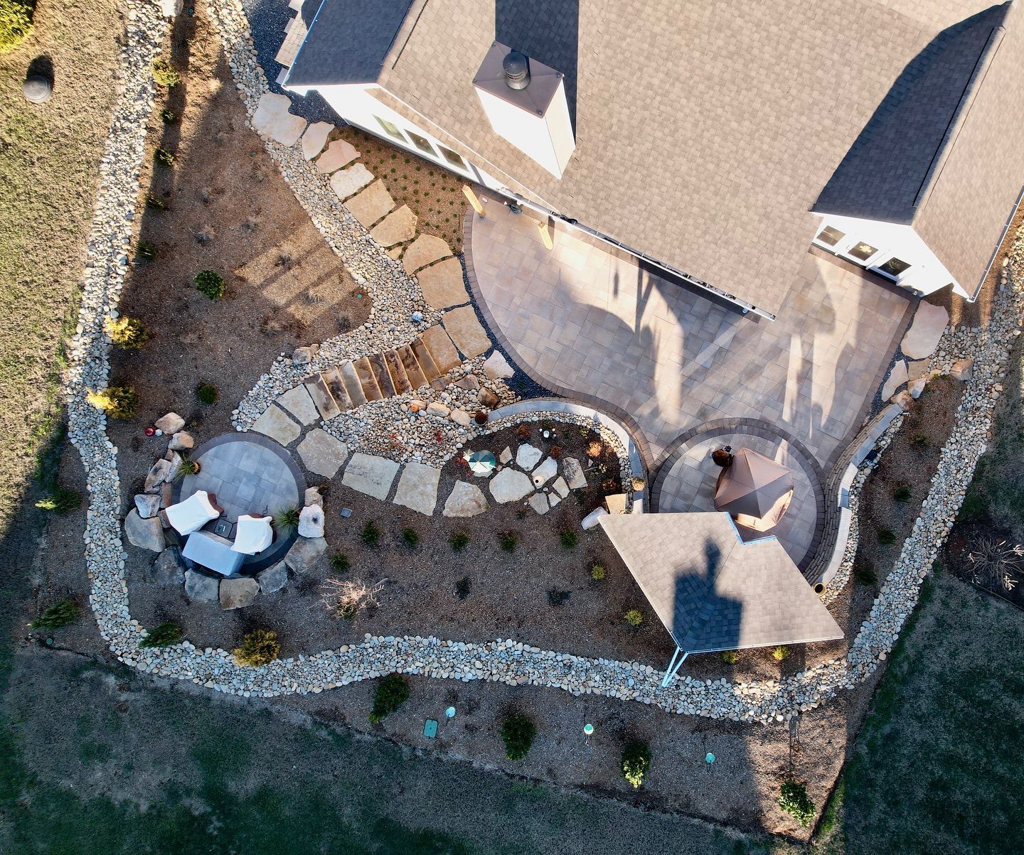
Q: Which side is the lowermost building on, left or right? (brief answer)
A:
right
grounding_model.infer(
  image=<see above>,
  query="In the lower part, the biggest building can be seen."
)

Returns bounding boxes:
[595,510,845,690]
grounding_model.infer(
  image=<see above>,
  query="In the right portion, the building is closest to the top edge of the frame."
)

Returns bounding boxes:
[277,0,1024,325]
